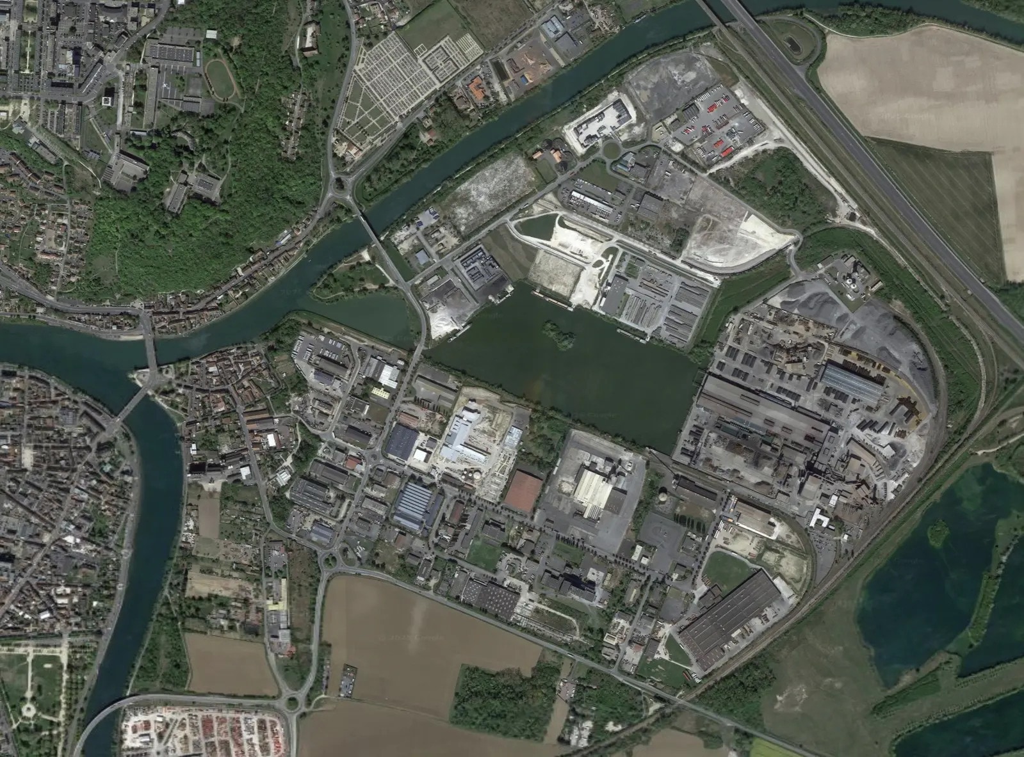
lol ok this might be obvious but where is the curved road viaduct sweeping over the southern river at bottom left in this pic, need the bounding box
[72,693,173,757]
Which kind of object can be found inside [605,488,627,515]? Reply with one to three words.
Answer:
building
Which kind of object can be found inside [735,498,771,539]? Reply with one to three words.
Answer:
shed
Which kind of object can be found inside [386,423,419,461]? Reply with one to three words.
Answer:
building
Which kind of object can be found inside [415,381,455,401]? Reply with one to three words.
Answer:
shed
